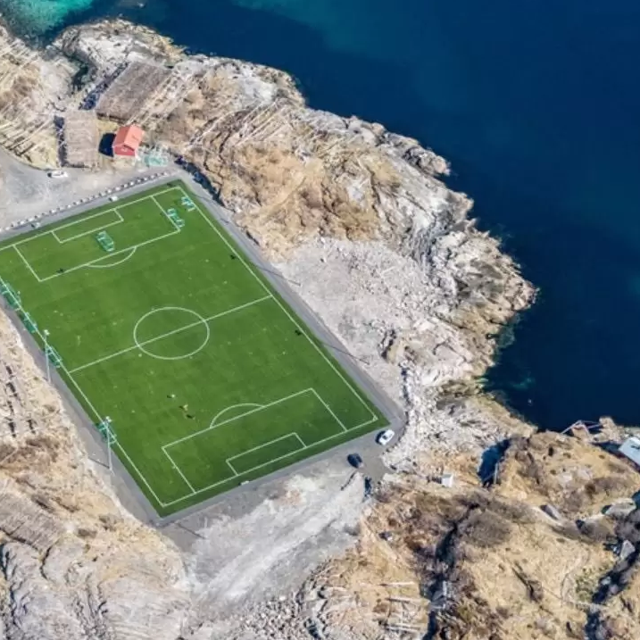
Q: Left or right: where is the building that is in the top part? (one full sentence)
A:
The building that is in the top part is on the left side of the image.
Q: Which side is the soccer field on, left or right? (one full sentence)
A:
The soccer field is on the left side of the image.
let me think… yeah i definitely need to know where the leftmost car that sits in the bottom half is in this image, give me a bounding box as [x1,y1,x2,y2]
[346,452,362,467]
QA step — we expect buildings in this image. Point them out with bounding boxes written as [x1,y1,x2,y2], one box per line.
[441,473,454,488]
[612,431,640,470]
[114,124,140,156]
